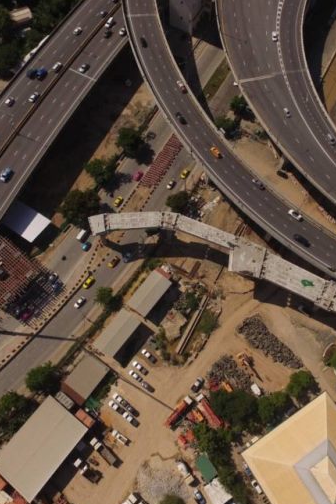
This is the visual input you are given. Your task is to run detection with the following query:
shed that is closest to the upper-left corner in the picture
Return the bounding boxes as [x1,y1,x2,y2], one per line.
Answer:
[11,7,34,30]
